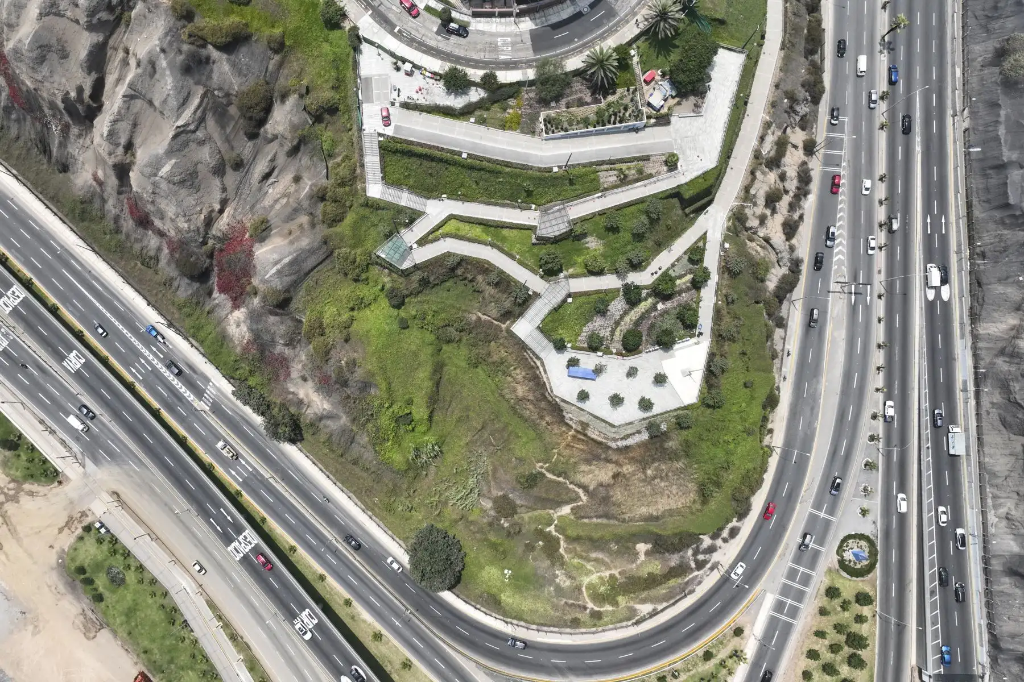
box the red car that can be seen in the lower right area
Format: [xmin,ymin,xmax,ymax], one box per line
[762,500,776,521]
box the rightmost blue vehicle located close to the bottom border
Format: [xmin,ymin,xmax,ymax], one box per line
[940,644,952,666]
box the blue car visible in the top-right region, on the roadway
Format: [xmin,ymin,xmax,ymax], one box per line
[887,64,899,85]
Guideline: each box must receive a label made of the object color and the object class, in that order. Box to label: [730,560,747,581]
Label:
white car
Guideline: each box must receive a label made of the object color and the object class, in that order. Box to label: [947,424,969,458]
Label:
white truck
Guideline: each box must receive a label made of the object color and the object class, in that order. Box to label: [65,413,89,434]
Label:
white vehicle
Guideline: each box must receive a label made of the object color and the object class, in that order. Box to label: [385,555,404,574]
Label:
white car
